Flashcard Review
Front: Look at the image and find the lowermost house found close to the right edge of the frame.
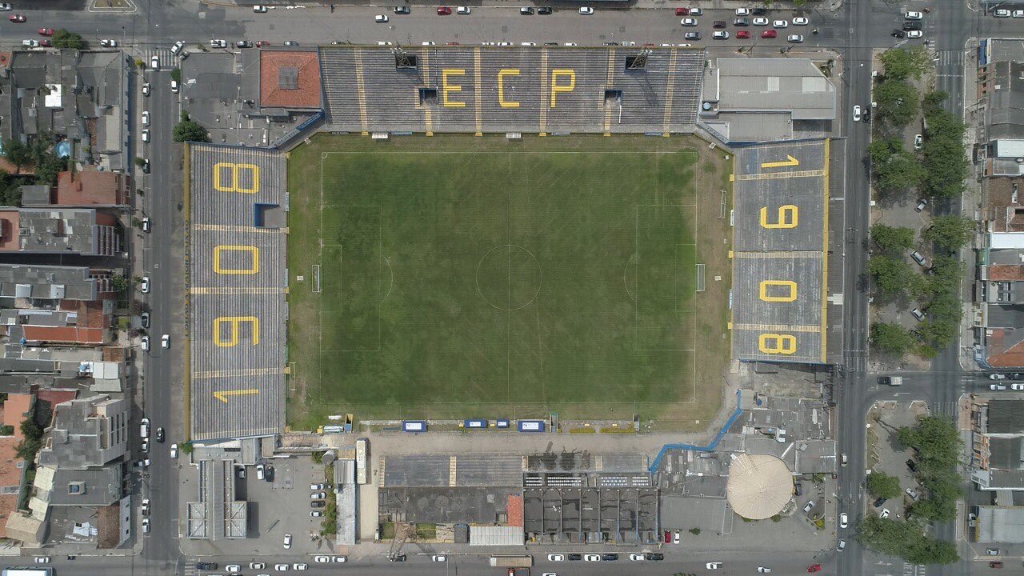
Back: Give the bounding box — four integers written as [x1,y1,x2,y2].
[971,503,1024,542]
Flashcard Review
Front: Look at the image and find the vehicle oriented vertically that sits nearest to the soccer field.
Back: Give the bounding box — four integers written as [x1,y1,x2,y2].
[358,438,370,484]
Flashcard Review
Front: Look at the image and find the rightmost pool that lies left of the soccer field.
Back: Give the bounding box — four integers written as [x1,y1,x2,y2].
[55,139,70,157]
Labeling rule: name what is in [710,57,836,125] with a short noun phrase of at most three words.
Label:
building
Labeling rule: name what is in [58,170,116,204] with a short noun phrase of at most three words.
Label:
house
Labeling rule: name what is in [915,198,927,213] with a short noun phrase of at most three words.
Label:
vehicle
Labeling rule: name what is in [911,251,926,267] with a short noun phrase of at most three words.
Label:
car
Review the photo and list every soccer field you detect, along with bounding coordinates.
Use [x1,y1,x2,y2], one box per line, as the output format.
[289,134,735,430]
